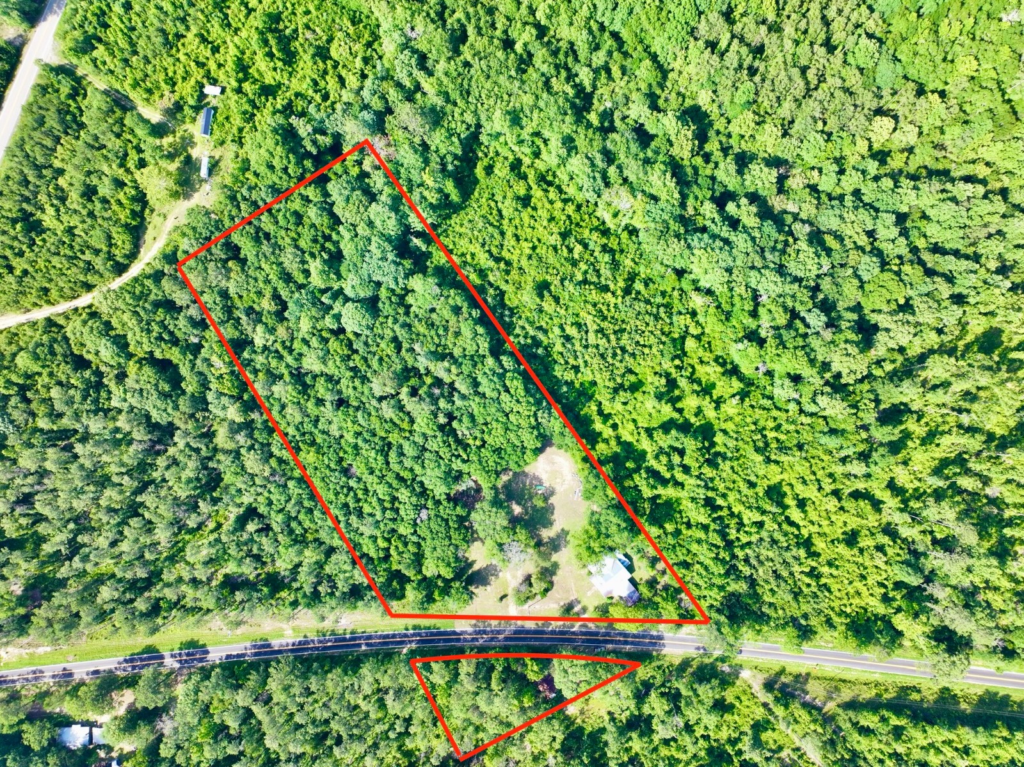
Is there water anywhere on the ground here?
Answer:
No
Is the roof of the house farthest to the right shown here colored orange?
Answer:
No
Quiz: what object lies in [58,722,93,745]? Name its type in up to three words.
house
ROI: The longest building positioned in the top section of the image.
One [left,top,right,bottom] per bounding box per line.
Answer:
[200,107,216,138]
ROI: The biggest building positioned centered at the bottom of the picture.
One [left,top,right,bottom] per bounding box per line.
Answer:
[589,548,640,601]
